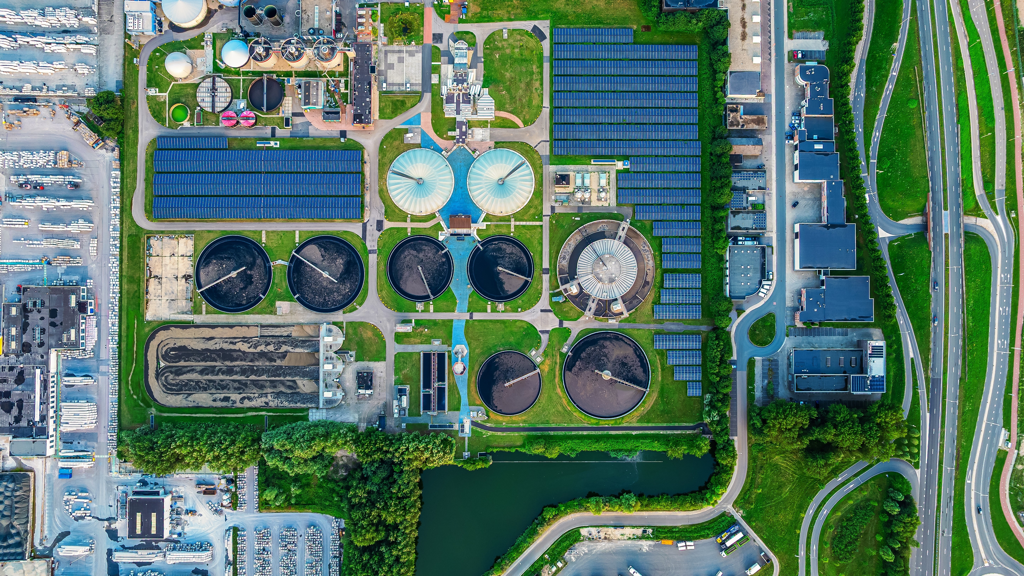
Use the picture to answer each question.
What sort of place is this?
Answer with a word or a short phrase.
industrial area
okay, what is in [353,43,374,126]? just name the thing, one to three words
building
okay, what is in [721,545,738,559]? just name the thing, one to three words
vehicle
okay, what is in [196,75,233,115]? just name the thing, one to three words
storage tank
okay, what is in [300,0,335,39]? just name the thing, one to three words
building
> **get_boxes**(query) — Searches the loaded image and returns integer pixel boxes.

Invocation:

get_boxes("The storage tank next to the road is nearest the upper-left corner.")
[161,0,210,28]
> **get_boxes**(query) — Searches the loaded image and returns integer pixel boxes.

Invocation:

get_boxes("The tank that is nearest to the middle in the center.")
[467,235,534,302]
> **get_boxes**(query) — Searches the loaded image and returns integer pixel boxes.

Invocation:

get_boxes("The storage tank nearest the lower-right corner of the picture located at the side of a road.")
[563,331,651,420]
